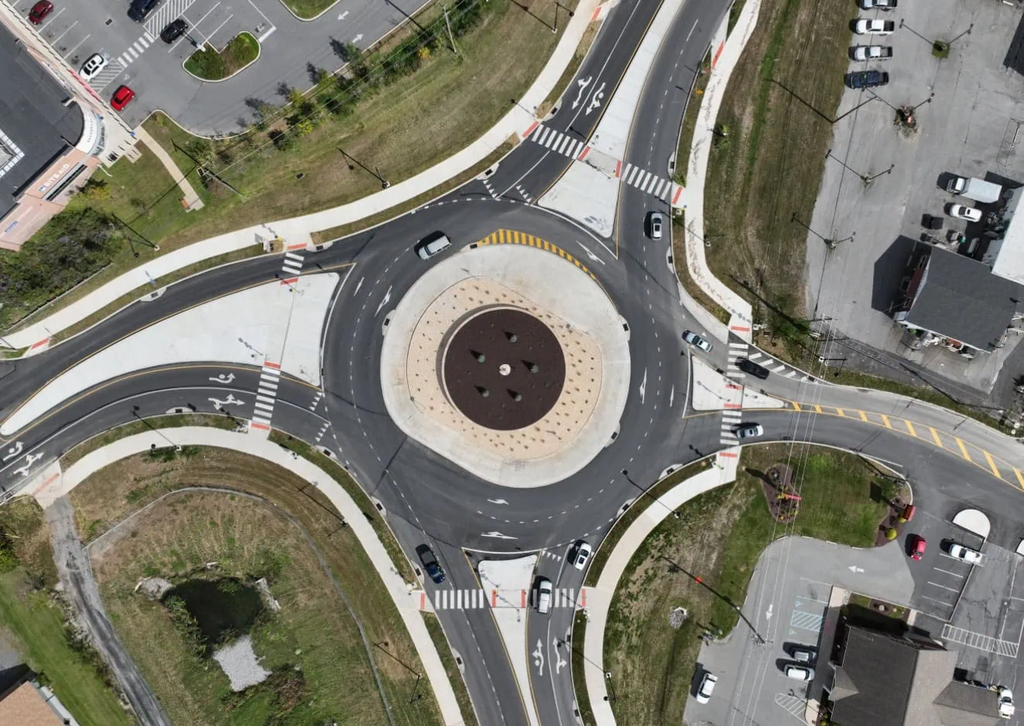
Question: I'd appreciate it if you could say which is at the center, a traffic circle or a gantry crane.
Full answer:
It is a traffic circle that can be seen at the center.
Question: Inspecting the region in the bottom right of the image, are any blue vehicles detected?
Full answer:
No, no blue vehicle appears in the bottom right of the image.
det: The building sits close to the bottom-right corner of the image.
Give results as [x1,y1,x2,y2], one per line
[814,623,1004,726]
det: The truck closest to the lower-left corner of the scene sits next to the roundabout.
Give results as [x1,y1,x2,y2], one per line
[415,544,445,583]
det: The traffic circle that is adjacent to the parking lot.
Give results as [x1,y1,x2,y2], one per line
[321,188,692,555]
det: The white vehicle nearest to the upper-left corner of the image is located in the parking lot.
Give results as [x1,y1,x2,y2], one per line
[79,51,109,82]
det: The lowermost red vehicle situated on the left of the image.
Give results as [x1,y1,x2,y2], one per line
[111,83,137,111]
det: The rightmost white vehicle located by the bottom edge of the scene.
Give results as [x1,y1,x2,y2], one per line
[997,684,1016,720]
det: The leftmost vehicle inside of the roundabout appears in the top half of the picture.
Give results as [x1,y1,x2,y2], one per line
[416,232,453,259]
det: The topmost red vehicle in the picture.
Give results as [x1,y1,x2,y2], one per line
[28,0,56,27]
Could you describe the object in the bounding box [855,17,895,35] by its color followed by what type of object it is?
white vehicle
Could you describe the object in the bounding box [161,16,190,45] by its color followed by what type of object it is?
black car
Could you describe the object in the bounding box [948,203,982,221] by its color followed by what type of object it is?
white car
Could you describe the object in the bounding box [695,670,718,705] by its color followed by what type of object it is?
white truck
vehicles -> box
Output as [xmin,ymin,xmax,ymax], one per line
[79,51,109,82]
[682,329,715,354]
[907,533,927,562]
[847,69,889,89]
[736,357,771,381]
[857,0,898,12]
[573,540,592,572]
[785,647,818,664]
[161,16,190,45]
[855,17,895,35]
[997,684,1016,720]
[948,175,1005,201]
[948,203,982,221]
[415,544,445,583]
[852,44,893,62]
[111,83,137,111]
[649,211,664,241]
[695,670,718,705]
[537,579,553,614]
[28,0,56,27]
[782,664,814,682]
[731,423,763,439]
[416,232,453,259]
[947,544,986,566]
[128,0,160,25]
